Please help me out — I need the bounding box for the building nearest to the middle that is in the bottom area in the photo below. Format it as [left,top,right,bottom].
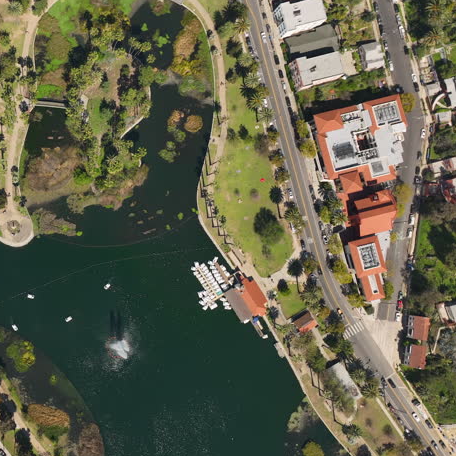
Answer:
[221,277,268,323]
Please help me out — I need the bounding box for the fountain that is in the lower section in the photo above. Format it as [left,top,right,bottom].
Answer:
[104,336,132,358]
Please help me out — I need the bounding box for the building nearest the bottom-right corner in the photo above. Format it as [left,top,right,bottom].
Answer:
[400,344,428,370]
